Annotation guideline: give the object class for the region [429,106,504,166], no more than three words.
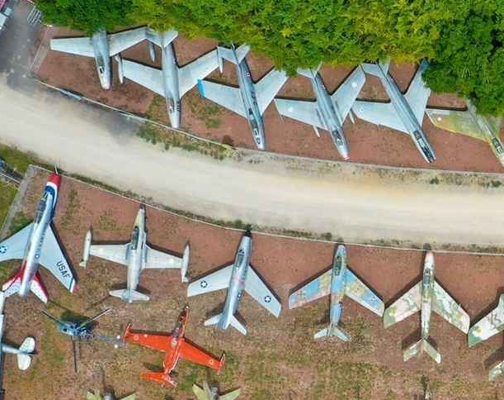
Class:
airplane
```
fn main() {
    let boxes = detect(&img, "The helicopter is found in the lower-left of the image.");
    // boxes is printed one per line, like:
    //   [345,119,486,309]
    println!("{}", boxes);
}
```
[43,309,122,372]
